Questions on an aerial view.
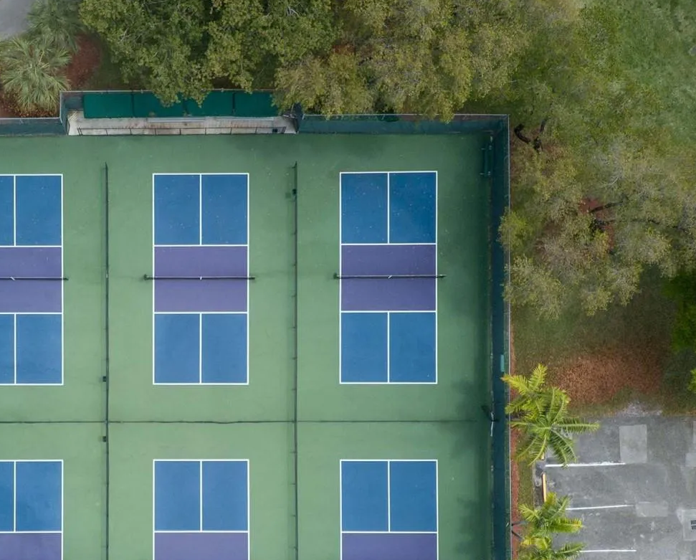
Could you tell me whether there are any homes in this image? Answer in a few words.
No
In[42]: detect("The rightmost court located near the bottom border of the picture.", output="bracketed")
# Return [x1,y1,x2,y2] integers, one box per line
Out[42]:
[390,461,438,532]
